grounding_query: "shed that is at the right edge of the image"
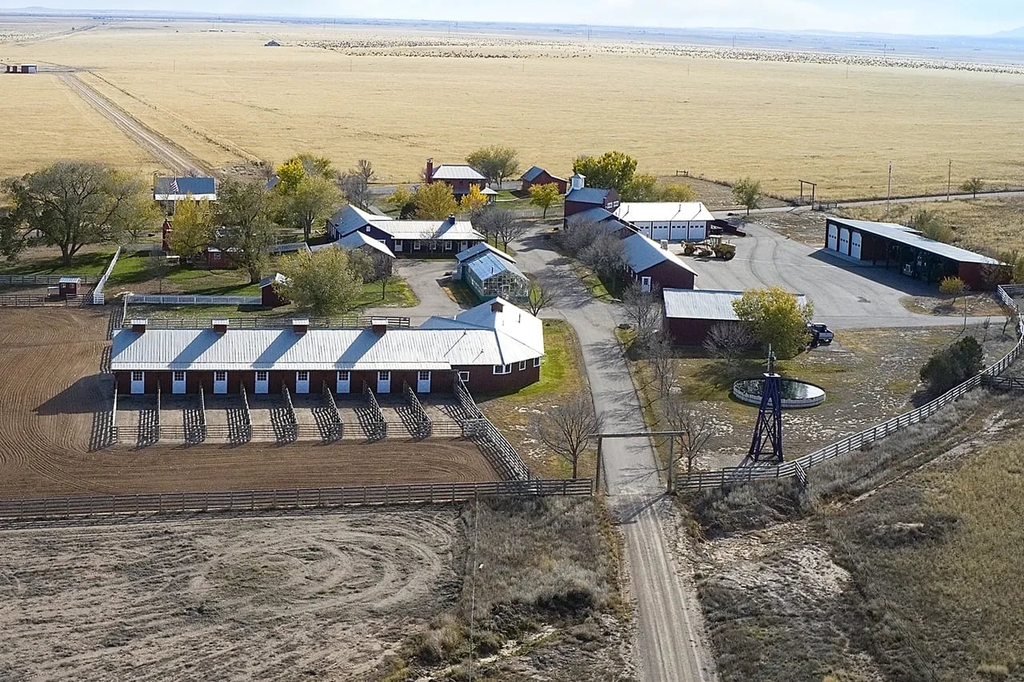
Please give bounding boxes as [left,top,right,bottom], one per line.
[813,220,1013,292]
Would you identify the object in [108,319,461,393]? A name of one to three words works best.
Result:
barn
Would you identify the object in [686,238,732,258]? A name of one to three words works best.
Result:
work vehicle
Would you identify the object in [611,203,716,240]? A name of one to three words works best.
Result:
building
